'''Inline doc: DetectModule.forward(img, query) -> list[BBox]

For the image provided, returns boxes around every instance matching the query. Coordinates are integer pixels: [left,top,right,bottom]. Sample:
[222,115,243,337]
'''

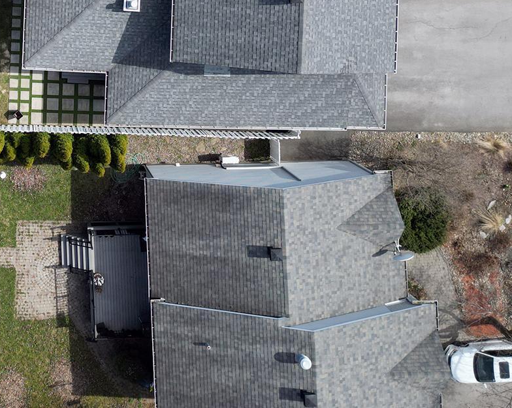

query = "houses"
[141,163,453,408]
[20,0,403,133]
